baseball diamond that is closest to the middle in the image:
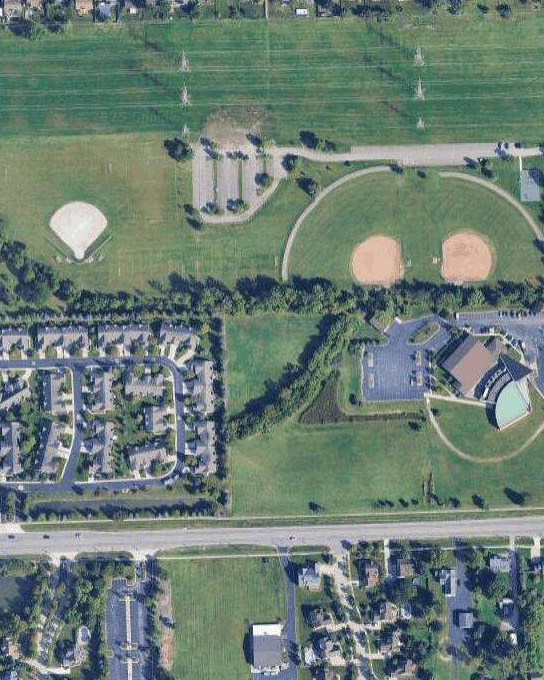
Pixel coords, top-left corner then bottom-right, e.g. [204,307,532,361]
[288,173,422,288]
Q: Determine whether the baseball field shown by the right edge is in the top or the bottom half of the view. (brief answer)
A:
top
